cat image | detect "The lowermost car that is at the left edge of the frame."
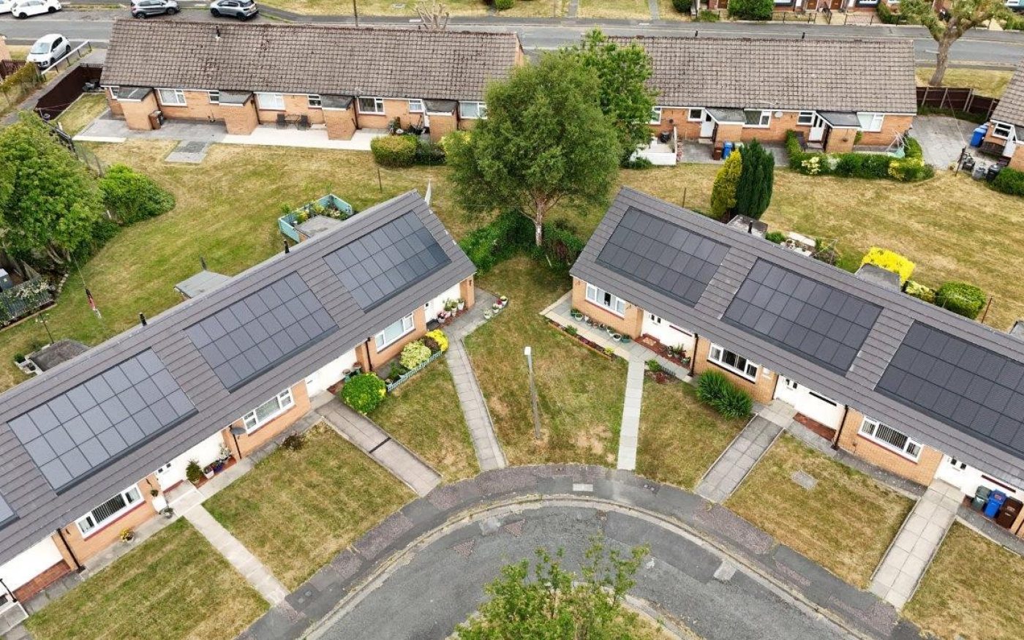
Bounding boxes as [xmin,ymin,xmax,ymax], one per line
[24,30,70,65]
